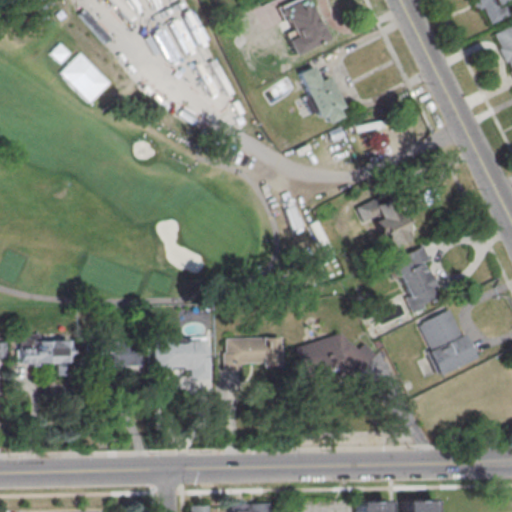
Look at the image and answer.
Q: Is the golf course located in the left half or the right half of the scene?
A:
left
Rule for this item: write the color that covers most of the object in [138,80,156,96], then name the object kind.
white vehicle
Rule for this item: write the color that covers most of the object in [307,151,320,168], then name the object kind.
white vehicle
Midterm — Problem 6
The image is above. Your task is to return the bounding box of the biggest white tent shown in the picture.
[60,52,112,104]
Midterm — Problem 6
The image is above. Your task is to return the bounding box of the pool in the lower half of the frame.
[182,320,206,336]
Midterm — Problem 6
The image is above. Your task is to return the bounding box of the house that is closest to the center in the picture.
[224,337,284,366]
